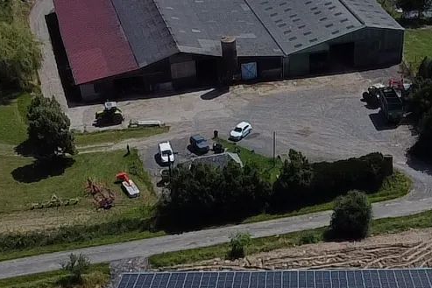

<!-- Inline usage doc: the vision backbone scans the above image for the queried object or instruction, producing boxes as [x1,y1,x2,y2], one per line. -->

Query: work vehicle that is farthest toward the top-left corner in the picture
[93,102,124,122]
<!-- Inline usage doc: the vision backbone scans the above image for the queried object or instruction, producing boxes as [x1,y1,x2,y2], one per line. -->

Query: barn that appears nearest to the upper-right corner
[235,0,407,73]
